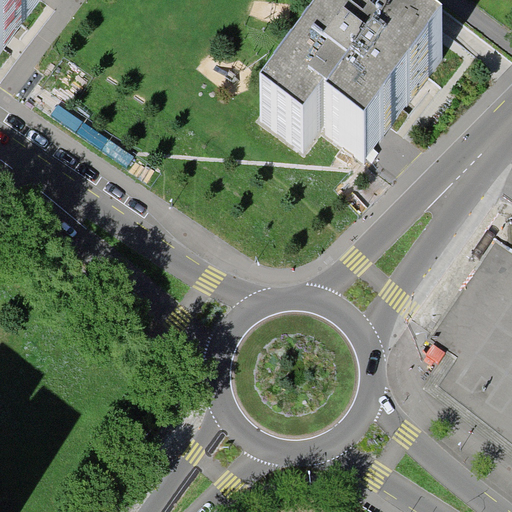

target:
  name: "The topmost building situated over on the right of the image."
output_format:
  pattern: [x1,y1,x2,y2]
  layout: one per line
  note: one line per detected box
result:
[260,0,442,166]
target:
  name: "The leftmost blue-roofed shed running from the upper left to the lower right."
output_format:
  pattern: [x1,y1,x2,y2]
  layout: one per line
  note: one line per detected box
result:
[52,106,84,134]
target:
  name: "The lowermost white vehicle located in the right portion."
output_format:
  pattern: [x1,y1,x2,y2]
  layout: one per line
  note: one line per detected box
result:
[378,394,396,416]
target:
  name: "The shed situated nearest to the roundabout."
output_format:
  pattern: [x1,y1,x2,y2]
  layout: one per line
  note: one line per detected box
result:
[418,345,444,368]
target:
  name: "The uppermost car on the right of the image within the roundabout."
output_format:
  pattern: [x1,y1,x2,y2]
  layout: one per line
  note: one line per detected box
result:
[366,350,380,375]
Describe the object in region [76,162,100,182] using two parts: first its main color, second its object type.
black car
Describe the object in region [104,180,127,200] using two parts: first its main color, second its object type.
gray car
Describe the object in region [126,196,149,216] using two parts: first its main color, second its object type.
gray car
